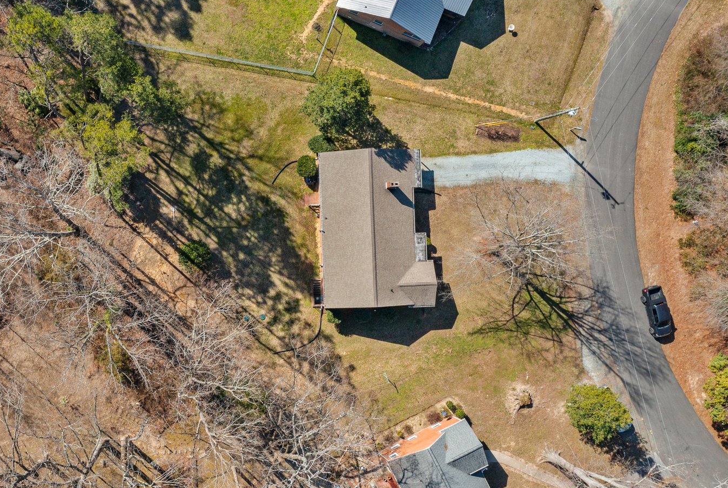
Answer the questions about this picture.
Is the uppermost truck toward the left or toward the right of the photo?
right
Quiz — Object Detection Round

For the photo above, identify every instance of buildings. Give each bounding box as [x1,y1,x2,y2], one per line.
[334,0,472,49]
[381,415,494,488]
[315,149,437,309]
